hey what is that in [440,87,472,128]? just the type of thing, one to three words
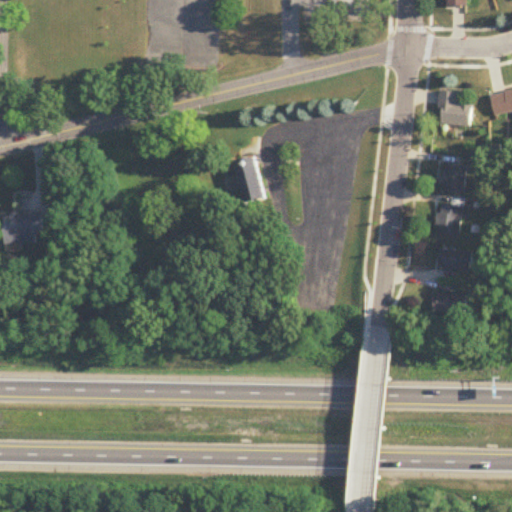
house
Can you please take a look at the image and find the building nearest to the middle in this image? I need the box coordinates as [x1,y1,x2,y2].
[242,156,266,200]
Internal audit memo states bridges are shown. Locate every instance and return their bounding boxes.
[344,334,390,512]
